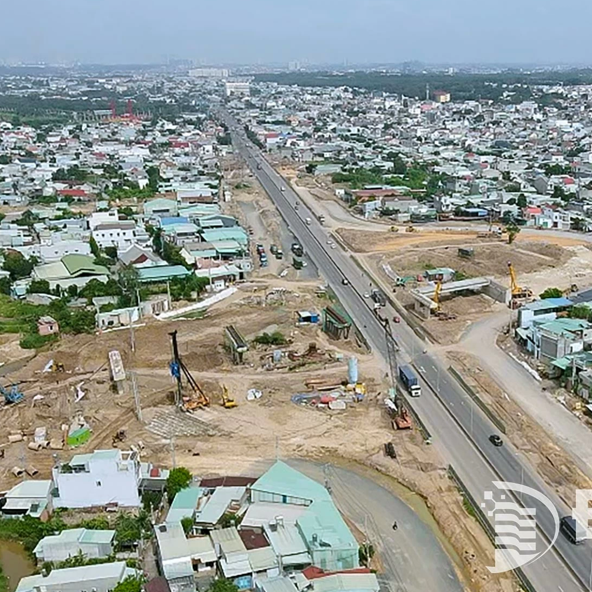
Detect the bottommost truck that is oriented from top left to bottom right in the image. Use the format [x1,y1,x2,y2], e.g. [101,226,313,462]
[556,512,585,543]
